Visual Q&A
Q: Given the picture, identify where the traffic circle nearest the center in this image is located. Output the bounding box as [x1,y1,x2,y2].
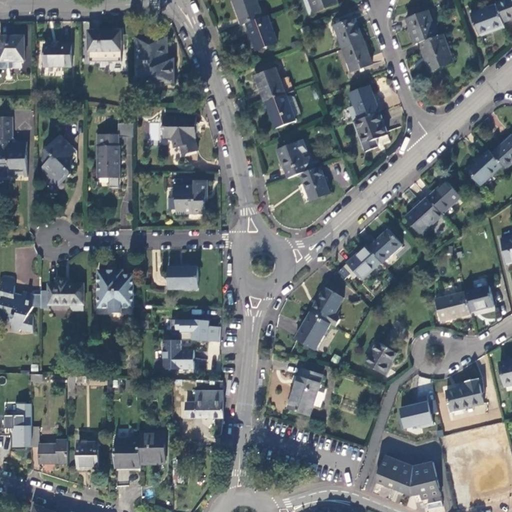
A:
[222,206,316,328]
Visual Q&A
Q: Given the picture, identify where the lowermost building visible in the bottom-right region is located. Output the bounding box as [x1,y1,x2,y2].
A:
[366,450,446,512]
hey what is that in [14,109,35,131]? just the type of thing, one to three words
shed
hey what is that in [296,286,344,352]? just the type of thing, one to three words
house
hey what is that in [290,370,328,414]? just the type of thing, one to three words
house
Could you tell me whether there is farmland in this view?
No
